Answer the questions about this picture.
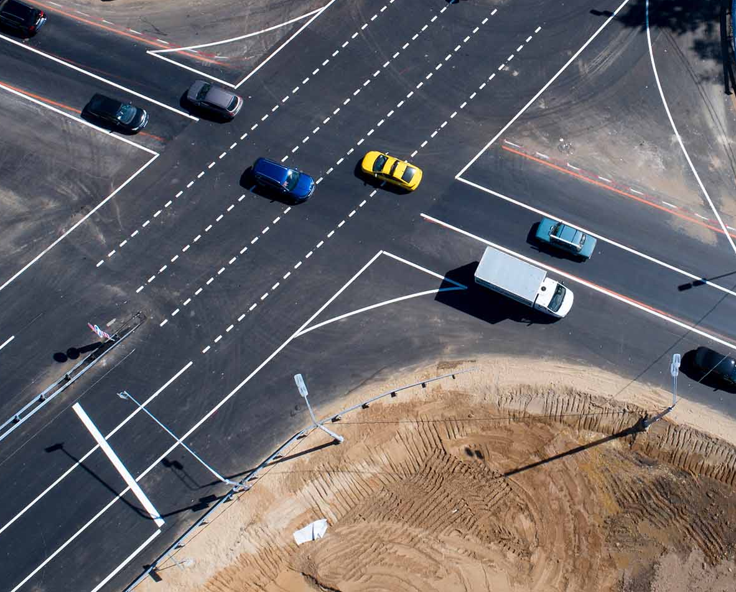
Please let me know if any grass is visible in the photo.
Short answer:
No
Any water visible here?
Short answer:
No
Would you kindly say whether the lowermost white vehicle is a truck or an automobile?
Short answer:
truck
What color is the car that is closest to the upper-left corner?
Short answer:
black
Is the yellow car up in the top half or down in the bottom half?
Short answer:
top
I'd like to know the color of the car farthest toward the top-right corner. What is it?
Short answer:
blue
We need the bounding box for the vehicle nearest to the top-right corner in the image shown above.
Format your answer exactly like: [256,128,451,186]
[533,219,597,261]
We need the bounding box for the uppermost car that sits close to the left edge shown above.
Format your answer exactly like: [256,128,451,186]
[0,0,49,35]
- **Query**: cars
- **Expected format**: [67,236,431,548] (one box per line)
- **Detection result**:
[0,0,49,35]
[85,90,149,129]
[253,154,317,197]
[688,343,736,386]
[360,150,423,189]
[533,219,597,261]
[188,84,247,120]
